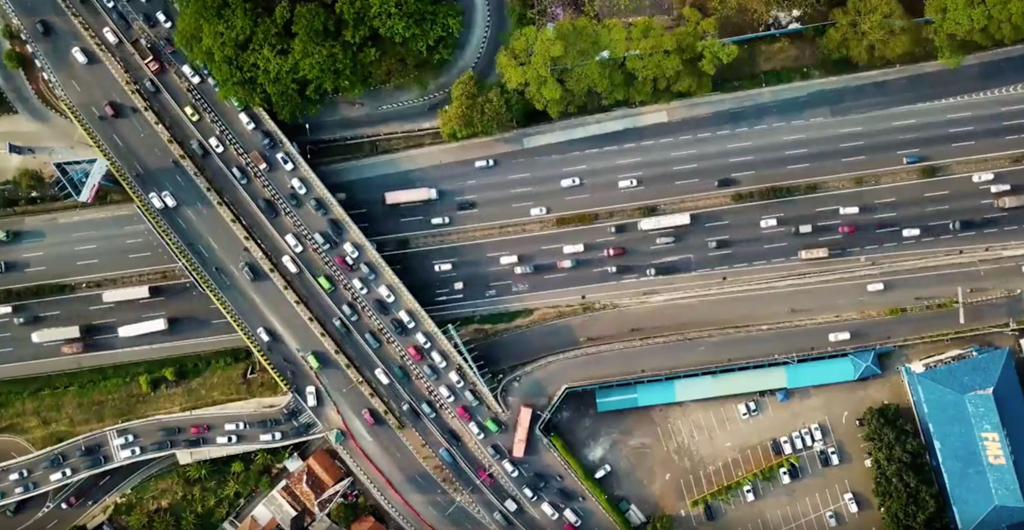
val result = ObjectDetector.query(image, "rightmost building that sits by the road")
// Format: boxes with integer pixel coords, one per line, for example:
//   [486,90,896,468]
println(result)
[900,346,1024,530]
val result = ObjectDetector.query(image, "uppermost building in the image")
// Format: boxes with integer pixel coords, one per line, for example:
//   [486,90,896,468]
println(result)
[843,347,894,381]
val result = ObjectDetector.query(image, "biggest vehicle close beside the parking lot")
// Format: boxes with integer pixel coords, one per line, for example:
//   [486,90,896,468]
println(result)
[510,403,534,460]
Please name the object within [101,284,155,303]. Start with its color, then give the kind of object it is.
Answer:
white vehicle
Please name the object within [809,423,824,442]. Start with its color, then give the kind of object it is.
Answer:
white car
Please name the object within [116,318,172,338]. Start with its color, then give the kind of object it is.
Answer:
white vehicle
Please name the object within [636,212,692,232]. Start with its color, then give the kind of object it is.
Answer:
white bus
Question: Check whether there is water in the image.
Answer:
No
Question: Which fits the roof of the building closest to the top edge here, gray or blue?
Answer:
blue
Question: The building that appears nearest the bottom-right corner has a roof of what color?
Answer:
blue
